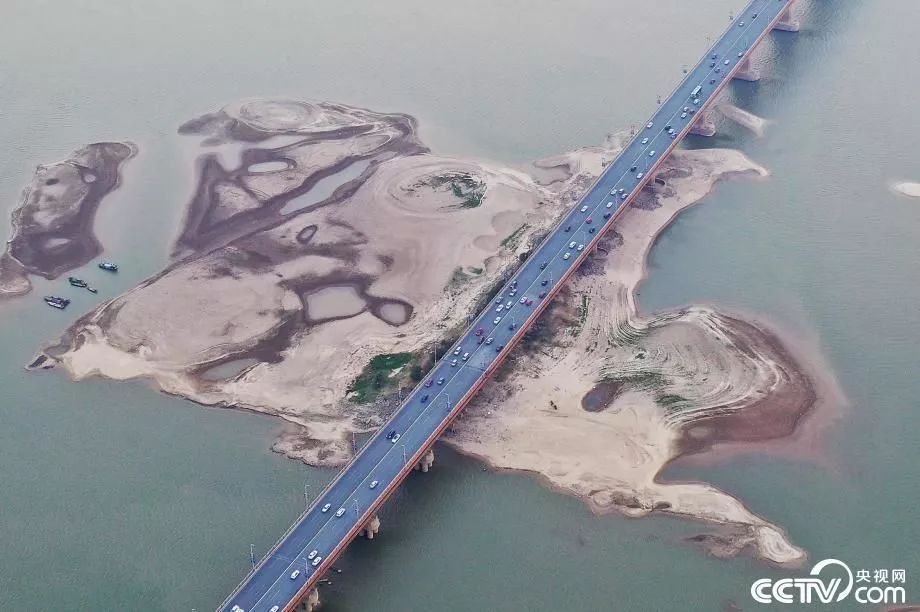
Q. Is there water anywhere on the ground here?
Yes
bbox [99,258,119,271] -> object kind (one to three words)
boat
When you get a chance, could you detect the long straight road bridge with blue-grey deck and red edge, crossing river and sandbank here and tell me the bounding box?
[215,0,799,612]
